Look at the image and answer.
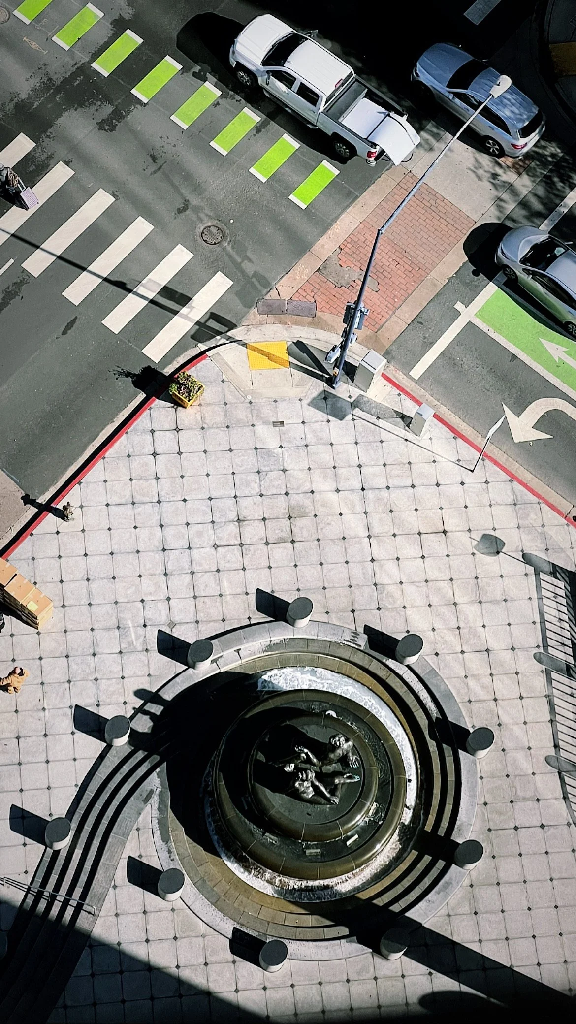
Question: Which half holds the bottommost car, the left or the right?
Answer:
right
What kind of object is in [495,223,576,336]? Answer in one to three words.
car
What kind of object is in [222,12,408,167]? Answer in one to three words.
truck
